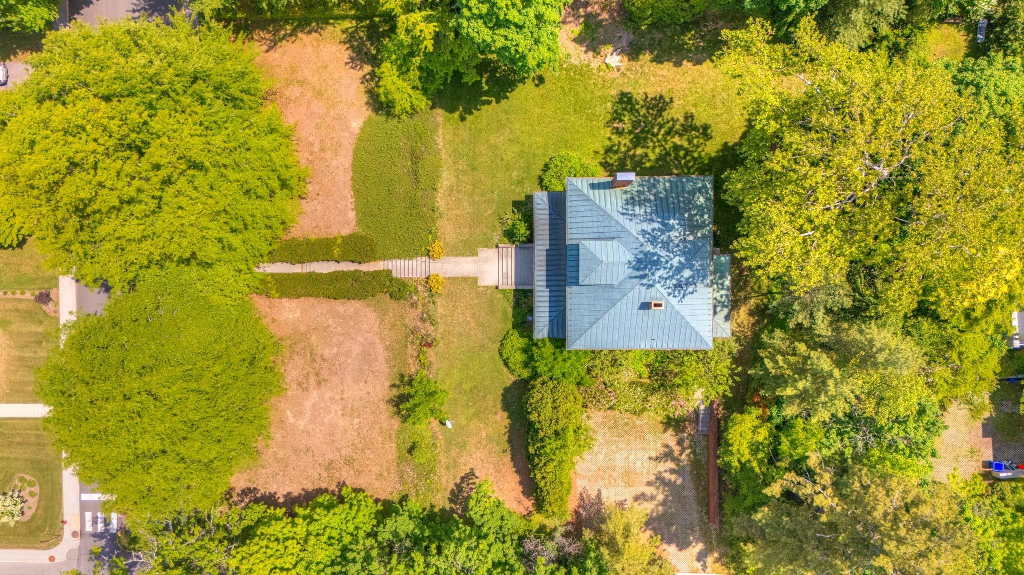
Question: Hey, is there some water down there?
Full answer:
No, water can't be seen anywhere here.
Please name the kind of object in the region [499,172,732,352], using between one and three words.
house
